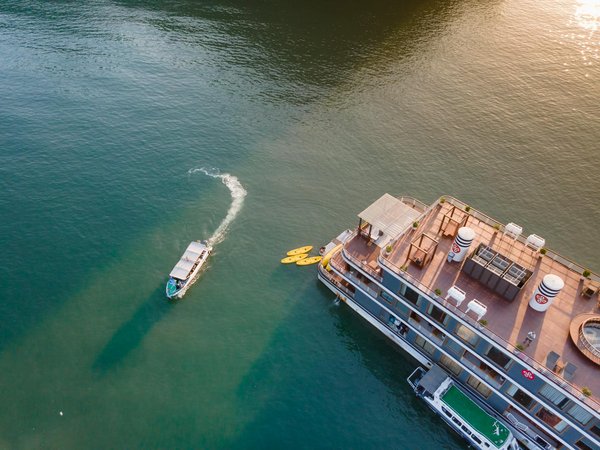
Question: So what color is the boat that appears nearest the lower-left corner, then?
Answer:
white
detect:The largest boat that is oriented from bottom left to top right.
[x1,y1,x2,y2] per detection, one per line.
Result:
[169,242,217,299]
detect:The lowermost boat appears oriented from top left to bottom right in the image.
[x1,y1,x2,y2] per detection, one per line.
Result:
[406,367,529,450]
